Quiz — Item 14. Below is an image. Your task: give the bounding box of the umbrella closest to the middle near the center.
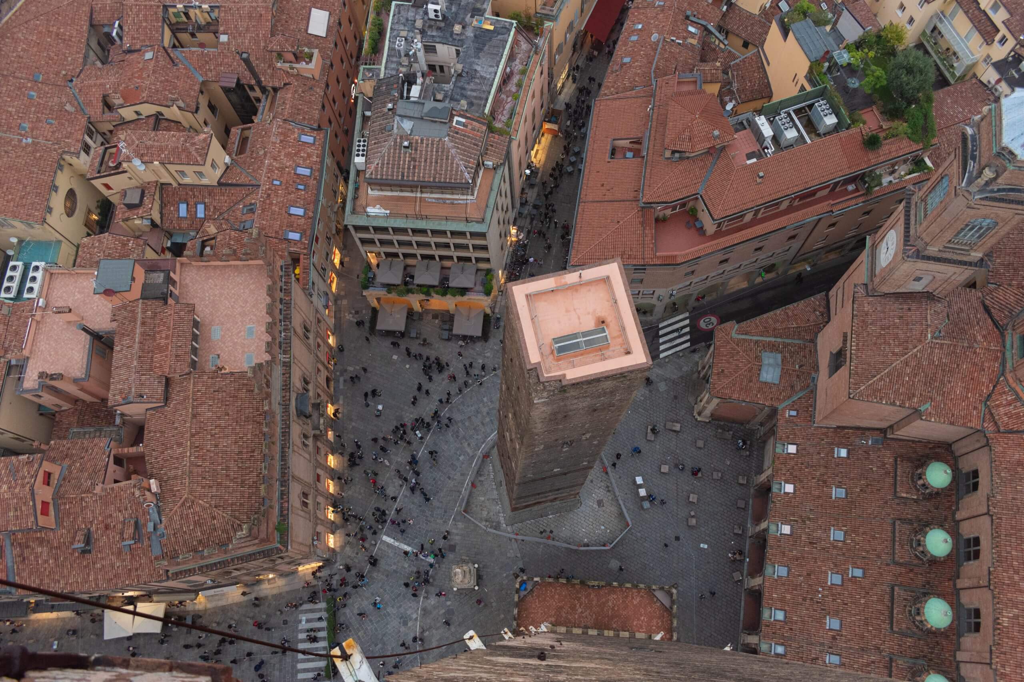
[452,308,487,340]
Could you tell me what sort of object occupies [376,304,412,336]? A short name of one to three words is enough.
umbrella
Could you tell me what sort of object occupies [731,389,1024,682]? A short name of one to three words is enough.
church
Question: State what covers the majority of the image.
buildings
